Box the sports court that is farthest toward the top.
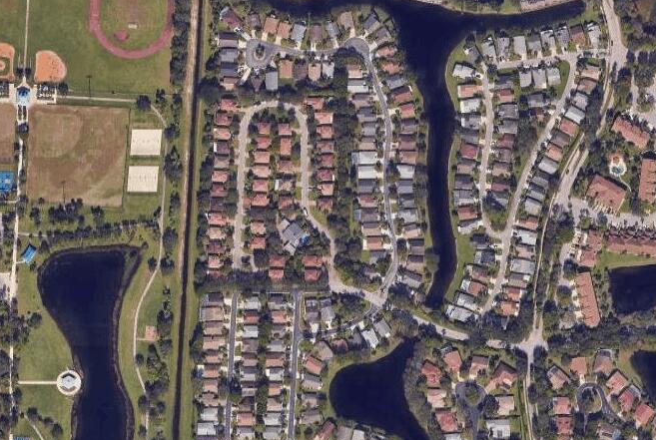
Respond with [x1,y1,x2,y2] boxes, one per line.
[130,129,162,156]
